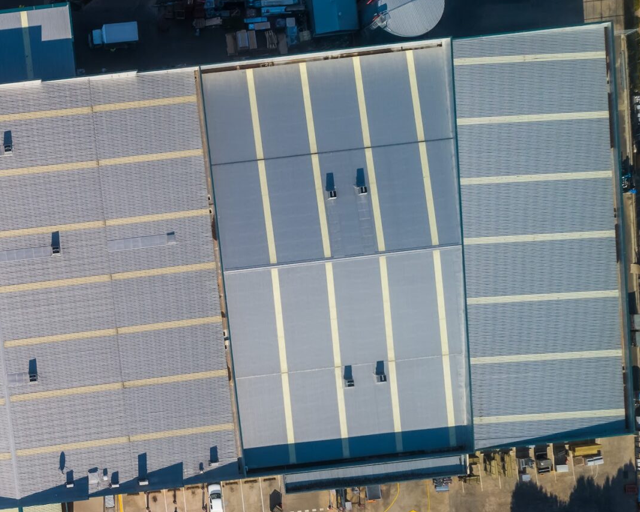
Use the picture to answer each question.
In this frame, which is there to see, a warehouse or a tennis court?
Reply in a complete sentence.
This aerial view contains a warehouse.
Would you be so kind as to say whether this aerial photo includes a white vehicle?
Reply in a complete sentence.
Yes, there's a white vehicle down there.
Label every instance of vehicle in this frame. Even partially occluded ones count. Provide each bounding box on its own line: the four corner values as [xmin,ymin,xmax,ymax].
[206,483,225,512]
[90,19,141,47]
